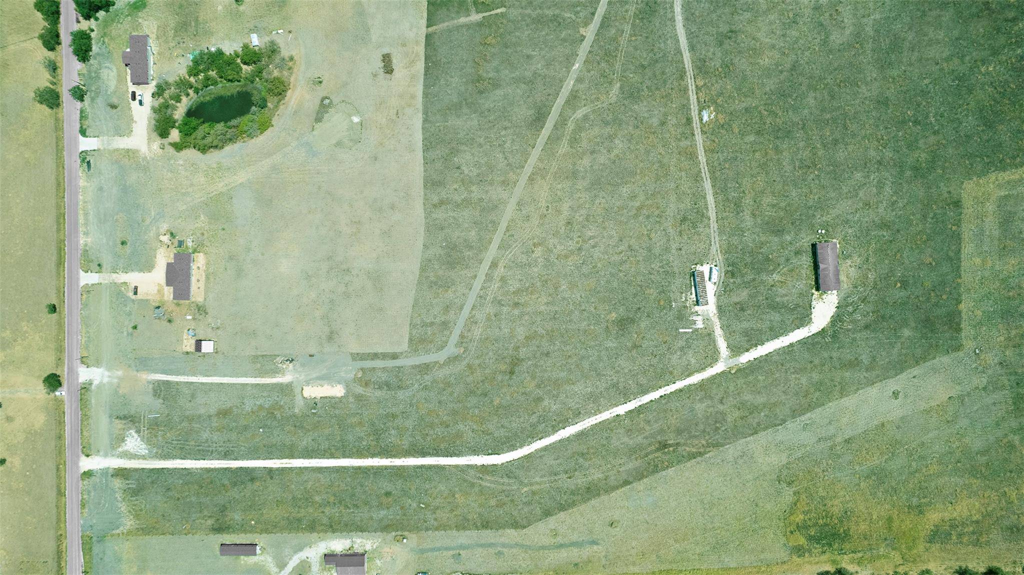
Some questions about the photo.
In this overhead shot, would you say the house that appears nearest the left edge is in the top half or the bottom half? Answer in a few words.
top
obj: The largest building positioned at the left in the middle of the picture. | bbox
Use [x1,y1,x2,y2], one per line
[165,253,197,300]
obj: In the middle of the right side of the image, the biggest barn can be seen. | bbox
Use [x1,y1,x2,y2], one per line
[814,242,840,292]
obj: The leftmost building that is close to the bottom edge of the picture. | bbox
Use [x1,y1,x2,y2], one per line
[220,543,260,556]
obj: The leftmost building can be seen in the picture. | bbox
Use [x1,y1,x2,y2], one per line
[122,34,154,85]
